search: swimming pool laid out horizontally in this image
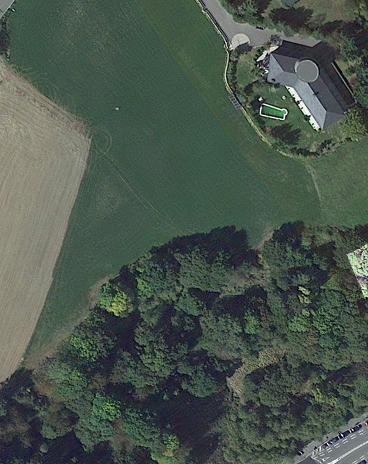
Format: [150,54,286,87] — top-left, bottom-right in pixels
[261,106,286,119]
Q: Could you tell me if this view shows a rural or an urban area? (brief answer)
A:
rural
